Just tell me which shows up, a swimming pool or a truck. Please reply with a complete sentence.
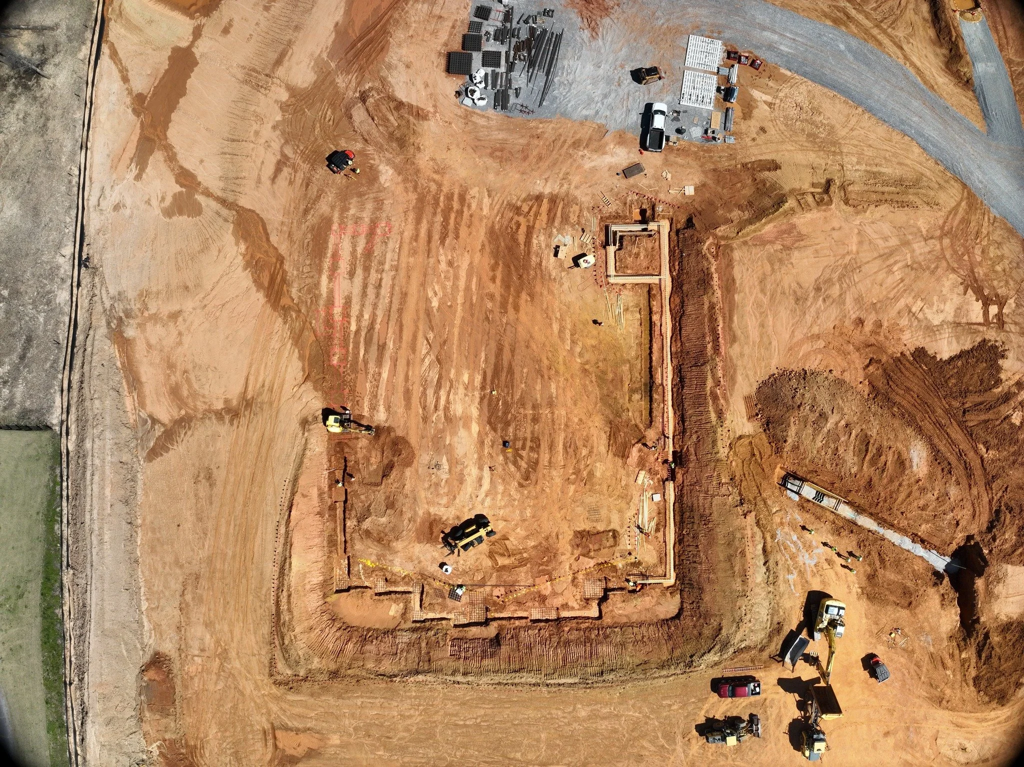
Visible in the photo is a truck.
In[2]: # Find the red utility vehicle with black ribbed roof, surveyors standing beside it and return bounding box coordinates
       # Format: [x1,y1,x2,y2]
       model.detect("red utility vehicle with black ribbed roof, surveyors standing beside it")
[328,150,357,178]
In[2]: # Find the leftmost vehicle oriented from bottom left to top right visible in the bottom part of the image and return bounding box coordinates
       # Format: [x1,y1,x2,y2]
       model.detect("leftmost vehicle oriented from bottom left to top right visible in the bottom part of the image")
[443,518,496,559]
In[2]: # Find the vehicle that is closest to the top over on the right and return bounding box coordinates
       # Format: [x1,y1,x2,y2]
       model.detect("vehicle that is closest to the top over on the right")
[639,63,667,85]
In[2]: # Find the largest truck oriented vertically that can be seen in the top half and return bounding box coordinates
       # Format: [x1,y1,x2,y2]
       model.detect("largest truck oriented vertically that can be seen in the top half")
[645,102,669,155]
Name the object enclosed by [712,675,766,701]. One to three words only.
truck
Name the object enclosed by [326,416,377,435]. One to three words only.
work vehicle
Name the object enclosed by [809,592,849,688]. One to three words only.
work vehicle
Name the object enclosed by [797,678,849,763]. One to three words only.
truck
